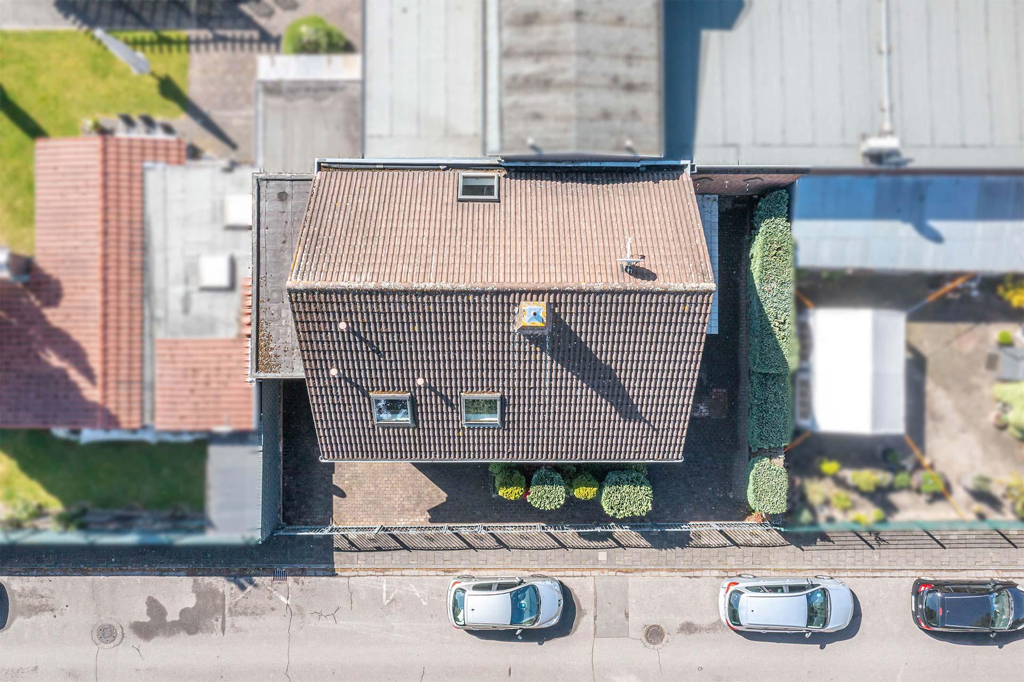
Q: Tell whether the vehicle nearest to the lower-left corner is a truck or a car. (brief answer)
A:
car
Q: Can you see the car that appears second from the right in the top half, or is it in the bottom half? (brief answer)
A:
bottom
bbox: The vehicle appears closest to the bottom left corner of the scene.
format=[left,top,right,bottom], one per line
[447,575,563,638]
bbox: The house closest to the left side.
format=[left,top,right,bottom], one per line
[0,132,184,430]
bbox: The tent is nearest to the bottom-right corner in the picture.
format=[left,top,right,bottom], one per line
[779,272,972,520]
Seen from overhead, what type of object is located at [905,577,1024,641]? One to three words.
car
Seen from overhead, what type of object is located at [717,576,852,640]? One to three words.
car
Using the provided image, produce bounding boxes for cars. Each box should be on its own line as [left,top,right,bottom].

[905,577,1024,641]
[717,576,852,640]
[447,575,563,638]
